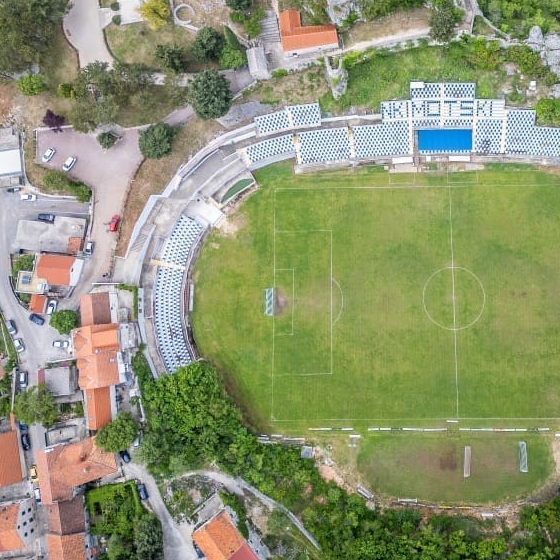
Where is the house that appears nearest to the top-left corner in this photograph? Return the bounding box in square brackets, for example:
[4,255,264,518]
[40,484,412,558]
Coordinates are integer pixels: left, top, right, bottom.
[0,150,28,177]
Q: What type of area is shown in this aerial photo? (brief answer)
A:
sports ground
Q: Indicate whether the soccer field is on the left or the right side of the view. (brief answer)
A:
right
